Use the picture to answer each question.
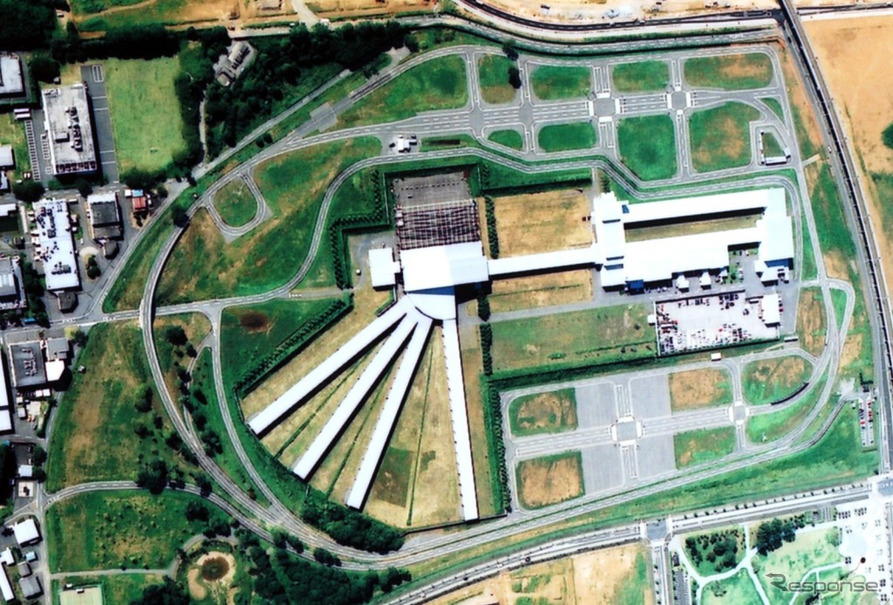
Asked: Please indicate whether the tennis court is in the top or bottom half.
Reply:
bottom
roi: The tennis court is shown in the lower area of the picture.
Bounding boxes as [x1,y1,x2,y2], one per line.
[58,582,104,605]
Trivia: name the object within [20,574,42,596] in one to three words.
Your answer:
house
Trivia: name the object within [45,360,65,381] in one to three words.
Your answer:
building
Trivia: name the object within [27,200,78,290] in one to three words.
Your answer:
building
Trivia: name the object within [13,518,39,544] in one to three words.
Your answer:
shed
